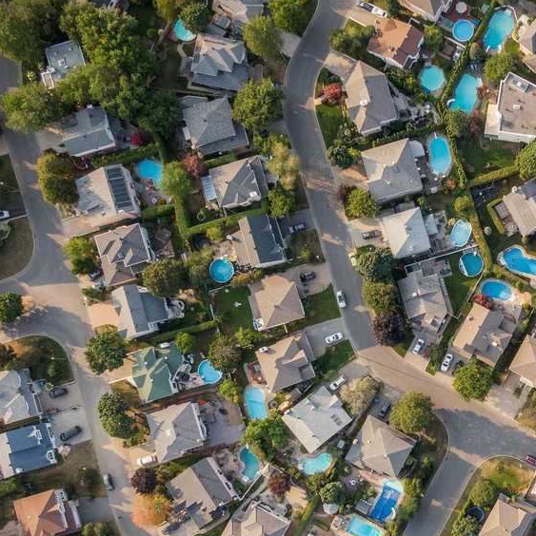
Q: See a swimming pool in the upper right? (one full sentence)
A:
Yes, a swimming pool appears in the upper right.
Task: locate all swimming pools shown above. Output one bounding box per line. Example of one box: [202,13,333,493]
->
[450,219,472,247]
[197,359,225,388]
[168,14,197,44]
[236,445,262,479]
[478,277,514,303]
[240,383,269,423]
[134,154,166,186]
[451,17,475,42]
[426,137,453,178]
[210,258,235,282]
[480,8,515,50]
[460,251,484,276]
[298,450,333,477]
[367,484,402,528]
[342,513,387,536]
[417,63,447,93]
[448,71,483,112]
[500,244,536,277]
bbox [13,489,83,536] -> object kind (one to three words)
house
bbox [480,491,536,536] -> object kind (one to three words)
house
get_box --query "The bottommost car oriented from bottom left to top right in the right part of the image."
[377,399,391,418]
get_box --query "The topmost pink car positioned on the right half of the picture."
[522,454,536,467]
